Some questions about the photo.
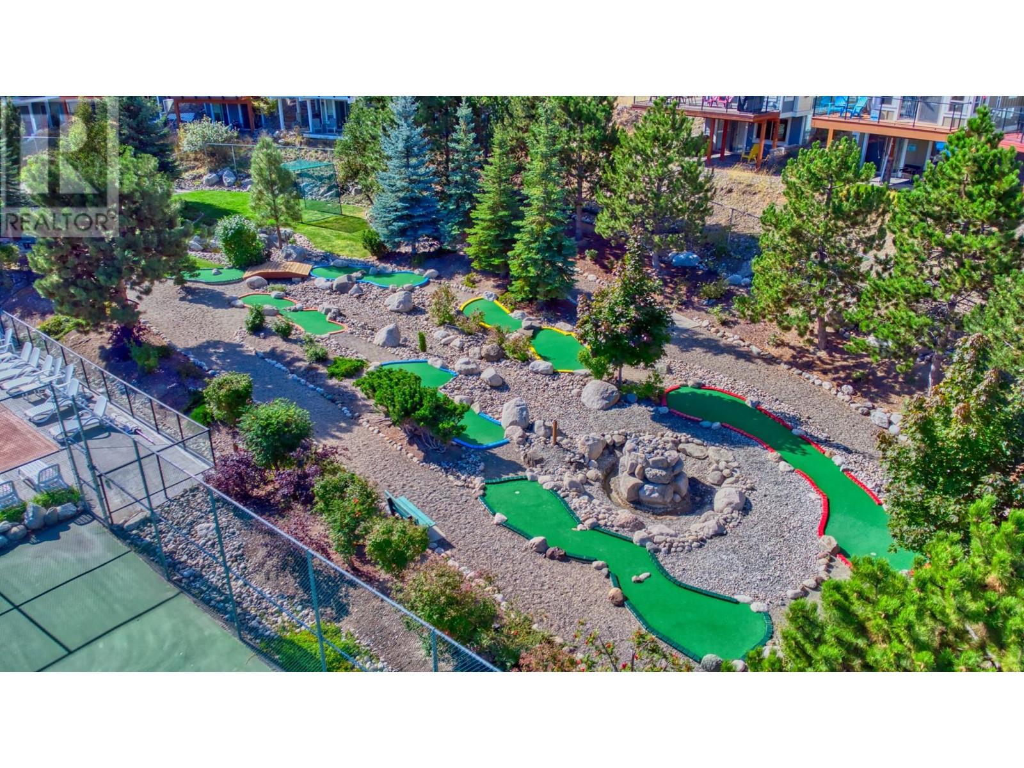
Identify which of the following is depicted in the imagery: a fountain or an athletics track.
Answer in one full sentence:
The image shows a fountain.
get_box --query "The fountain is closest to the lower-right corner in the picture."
[591,429,712,531]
